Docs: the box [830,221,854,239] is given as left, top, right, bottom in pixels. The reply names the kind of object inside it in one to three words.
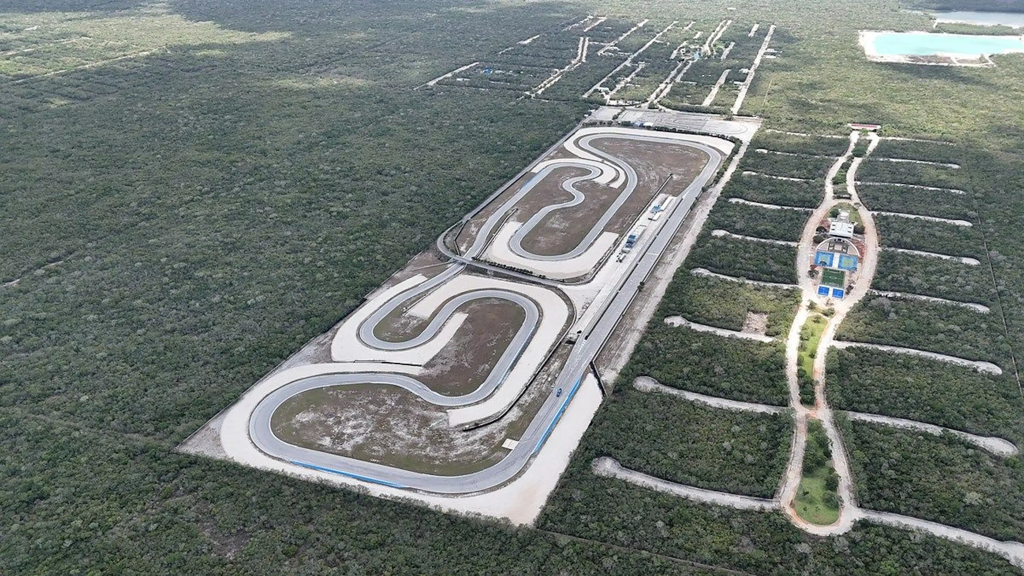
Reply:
building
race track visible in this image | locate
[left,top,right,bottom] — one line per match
[252,134,721,492]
